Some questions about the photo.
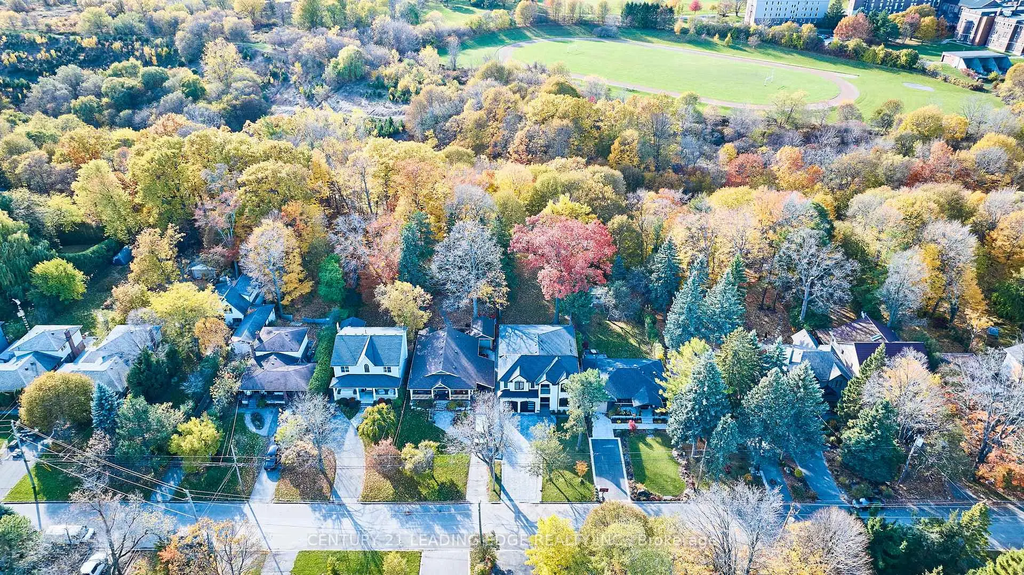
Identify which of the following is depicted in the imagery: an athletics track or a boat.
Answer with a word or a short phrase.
athletics track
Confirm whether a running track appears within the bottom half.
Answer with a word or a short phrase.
No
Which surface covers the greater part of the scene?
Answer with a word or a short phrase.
trees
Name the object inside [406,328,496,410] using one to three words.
house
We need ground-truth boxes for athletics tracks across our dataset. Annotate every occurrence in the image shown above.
[497,37,860,109]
